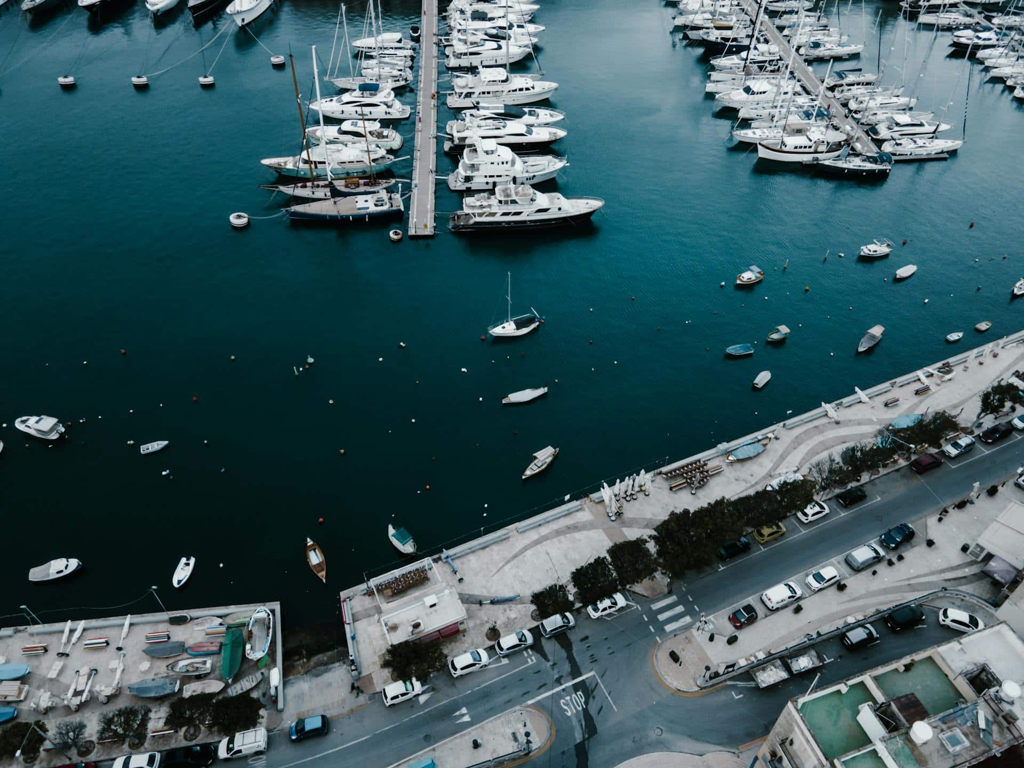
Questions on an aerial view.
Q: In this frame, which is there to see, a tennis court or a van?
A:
van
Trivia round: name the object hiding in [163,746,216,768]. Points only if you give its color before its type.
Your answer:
black car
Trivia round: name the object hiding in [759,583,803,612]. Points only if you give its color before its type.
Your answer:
white van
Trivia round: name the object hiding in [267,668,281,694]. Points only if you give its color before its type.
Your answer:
white boat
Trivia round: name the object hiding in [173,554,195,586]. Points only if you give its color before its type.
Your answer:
white boat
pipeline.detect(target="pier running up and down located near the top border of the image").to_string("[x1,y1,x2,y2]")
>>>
[409,0,438,238]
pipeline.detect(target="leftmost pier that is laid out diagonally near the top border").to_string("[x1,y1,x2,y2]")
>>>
[739,0,880,156]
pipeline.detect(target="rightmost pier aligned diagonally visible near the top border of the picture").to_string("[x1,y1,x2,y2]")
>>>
[964,5,1024,49]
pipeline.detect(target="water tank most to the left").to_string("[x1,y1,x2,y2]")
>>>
[905,722,931,748]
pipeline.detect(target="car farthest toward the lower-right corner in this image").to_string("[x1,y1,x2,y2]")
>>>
[939,611,980,635]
